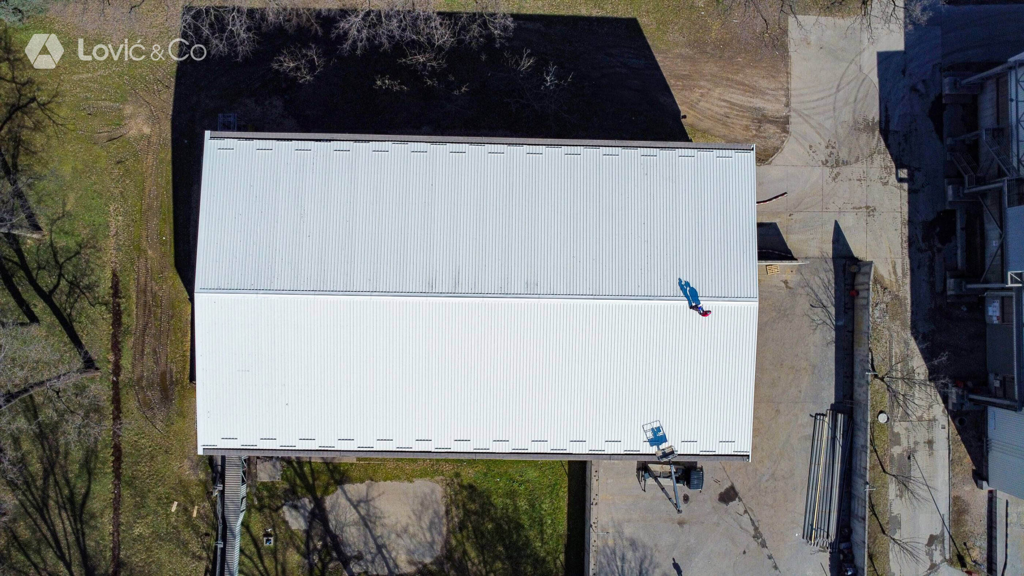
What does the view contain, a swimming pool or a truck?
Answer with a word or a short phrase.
truck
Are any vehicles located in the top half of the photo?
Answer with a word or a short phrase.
No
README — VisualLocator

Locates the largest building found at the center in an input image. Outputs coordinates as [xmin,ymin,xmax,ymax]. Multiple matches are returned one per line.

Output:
[194,132,758,462]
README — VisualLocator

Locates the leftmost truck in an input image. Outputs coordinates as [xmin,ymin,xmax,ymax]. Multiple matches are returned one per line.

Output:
[636,443,705,515]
